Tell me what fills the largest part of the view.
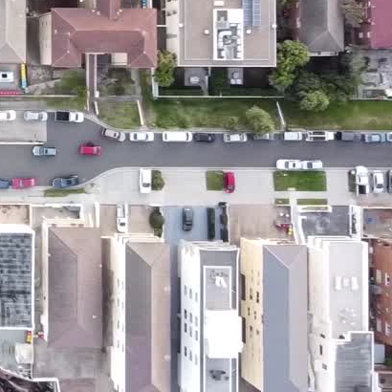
buildings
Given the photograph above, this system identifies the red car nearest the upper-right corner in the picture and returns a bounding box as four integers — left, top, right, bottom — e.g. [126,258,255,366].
[222,170,235,192]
